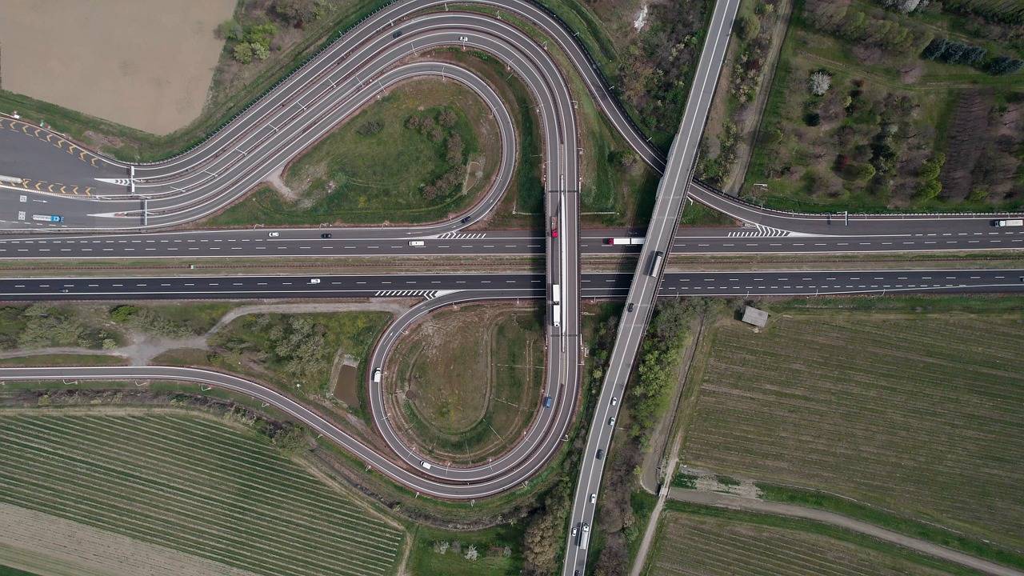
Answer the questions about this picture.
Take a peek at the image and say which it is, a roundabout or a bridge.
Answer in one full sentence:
Visible in the photo is a bridge.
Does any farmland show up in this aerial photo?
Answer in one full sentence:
Yes, farmland can be seen from above here.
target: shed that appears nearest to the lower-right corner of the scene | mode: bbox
[742,307,767,328]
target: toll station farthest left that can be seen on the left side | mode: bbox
[0,113,140,230]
